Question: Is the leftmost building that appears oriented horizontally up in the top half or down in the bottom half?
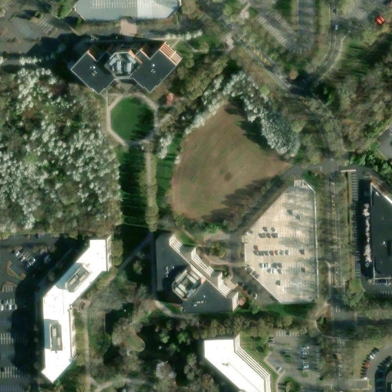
top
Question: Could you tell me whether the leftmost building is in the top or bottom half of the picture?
bottom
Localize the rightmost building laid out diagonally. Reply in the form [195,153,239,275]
[204,334,273,392]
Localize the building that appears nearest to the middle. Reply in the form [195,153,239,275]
[156,229,241,314]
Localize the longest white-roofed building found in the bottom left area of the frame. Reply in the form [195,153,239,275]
[42,232,115,383]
